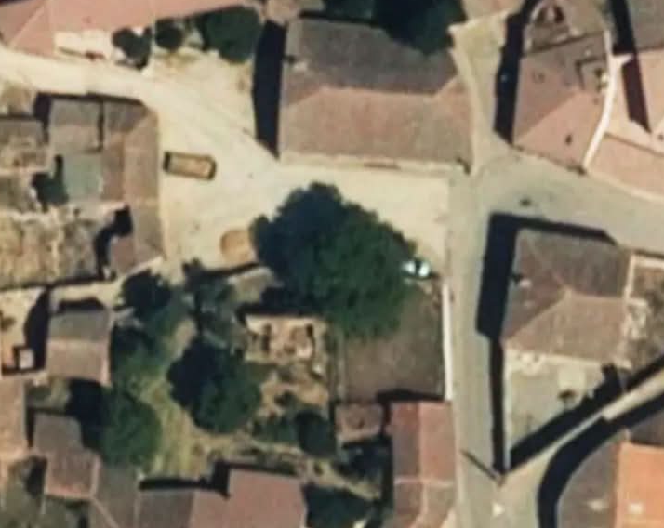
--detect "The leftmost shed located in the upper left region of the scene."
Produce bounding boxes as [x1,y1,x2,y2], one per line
[0,120,42,144]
